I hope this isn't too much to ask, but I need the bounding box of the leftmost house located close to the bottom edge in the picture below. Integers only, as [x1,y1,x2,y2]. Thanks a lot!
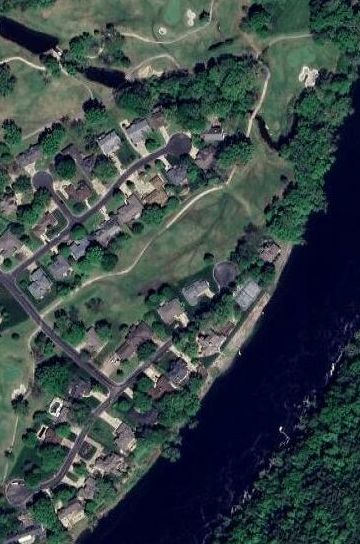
[3,515,46,544]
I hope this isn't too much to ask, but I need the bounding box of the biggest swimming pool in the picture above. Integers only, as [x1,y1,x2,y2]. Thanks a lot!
[50,398,62,417]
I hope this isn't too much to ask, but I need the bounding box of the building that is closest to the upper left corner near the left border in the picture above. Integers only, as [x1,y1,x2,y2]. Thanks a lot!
[16,143,44,166]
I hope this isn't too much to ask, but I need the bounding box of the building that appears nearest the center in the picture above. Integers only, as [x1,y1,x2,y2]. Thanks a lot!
[180,275,211,305]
